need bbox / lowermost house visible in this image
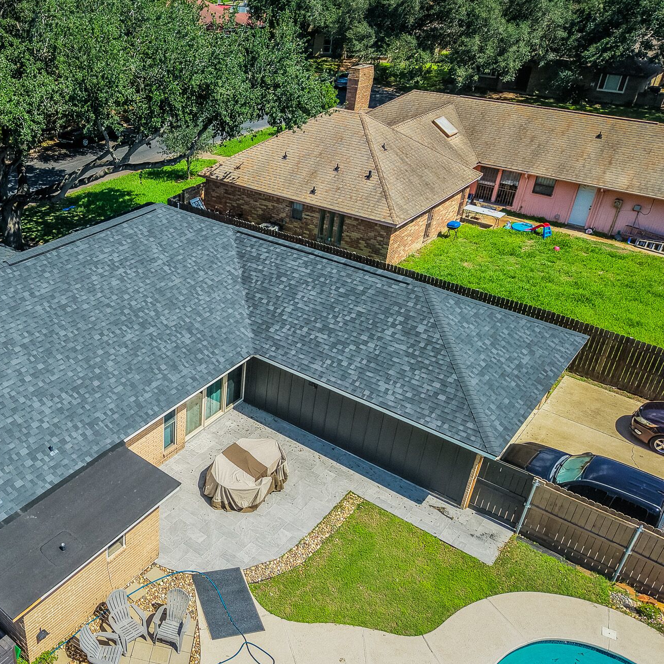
[0,201,592,663]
